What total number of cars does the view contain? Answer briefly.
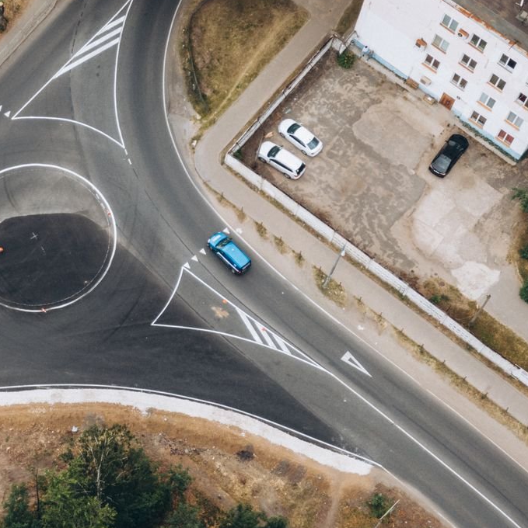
four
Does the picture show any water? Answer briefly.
No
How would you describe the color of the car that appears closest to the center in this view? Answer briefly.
blue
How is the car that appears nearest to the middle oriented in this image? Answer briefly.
on a diagonal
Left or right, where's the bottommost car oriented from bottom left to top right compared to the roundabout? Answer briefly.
right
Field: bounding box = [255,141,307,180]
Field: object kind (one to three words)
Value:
car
